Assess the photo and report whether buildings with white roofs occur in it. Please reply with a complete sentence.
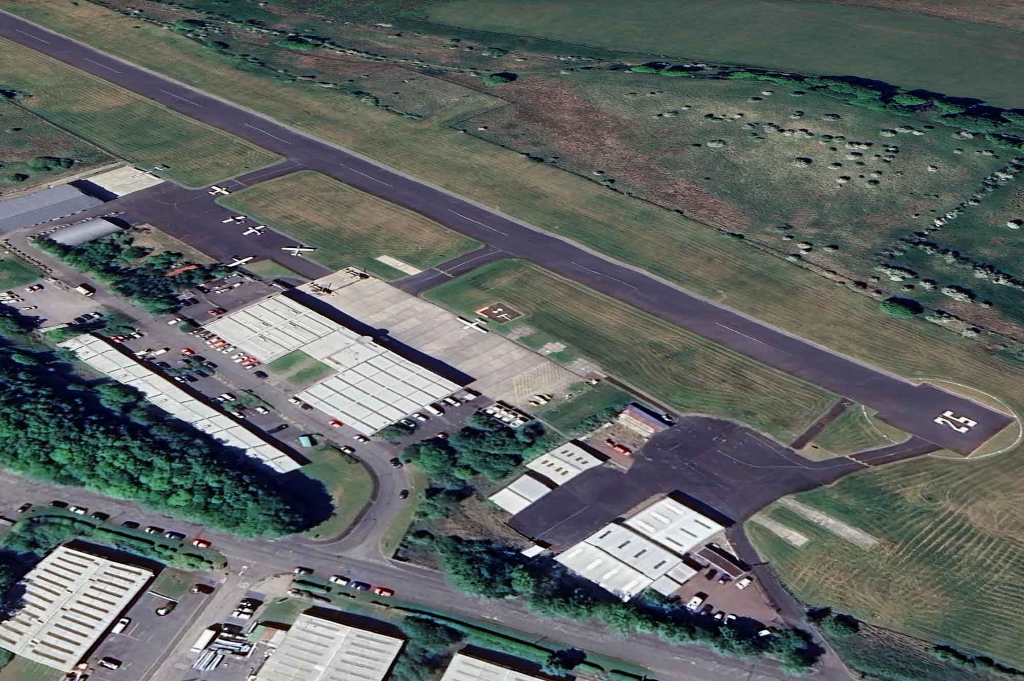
Yes, a building with a white roof is visible in the scene.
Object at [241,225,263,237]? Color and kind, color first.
white airplane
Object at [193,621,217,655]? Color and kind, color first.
white truck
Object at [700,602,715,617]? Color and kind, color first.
black car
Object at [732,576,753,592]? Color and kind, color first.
white vehicle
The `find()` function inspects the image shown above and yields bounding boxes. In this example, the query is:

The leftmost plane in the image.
[136,165,158,179]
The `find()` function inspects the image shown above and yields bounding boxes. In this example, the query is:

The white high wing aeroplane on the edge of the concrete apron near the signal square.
[459,314,486,334]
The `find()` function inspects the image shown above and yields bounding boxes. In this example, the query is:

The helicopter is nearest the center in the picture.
[350,265,375,283]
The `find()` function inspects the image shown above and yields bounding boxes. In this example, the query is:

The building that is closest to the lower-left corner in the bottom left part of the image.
[0,547,157,681]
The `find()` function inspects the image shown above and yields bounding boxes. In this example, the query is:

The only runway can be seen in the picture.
[0,10,1015,457]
